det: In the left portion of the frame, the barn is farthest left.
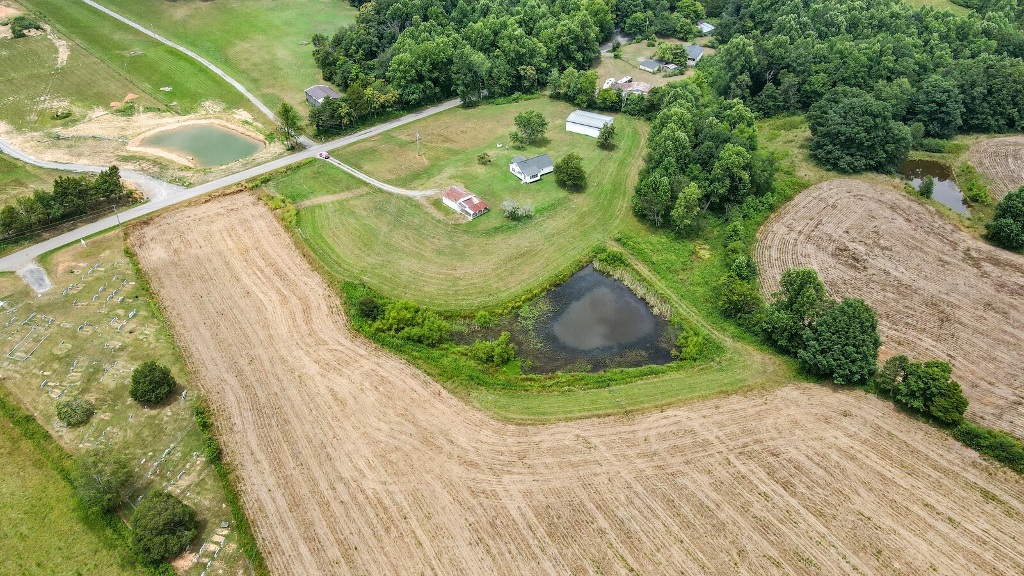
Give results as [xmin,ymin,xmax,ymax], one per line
[303,84,340,110]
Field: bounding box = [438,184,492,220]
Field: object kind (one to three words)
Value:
building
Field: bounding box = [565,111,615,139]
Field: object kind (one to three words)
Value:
barn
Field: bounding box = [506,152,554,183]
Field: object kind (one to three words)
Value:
house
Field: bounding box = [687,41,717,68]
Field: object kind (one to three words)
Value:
house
